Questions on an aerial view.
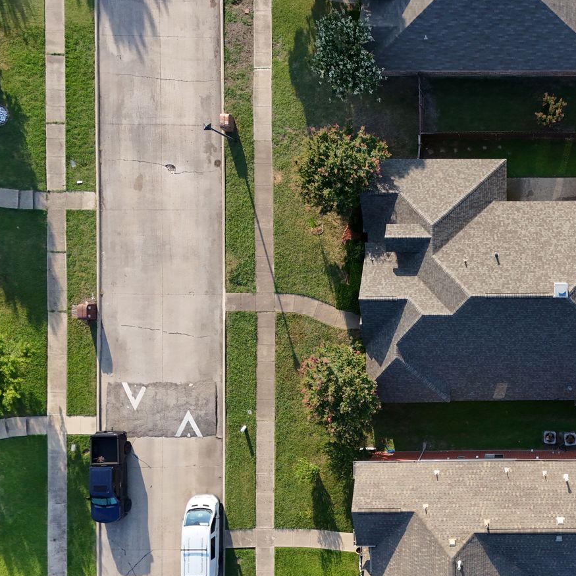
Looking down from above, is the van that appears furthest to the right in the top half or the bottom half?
bottom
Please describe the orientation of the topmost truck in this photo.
vertically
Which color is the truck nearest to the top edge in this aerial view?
black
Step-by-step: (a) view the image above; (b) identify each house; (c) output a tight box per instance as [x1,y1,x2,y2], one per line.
[362,0,576,77]
[360,158,576,403]
[352,443,576,576]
